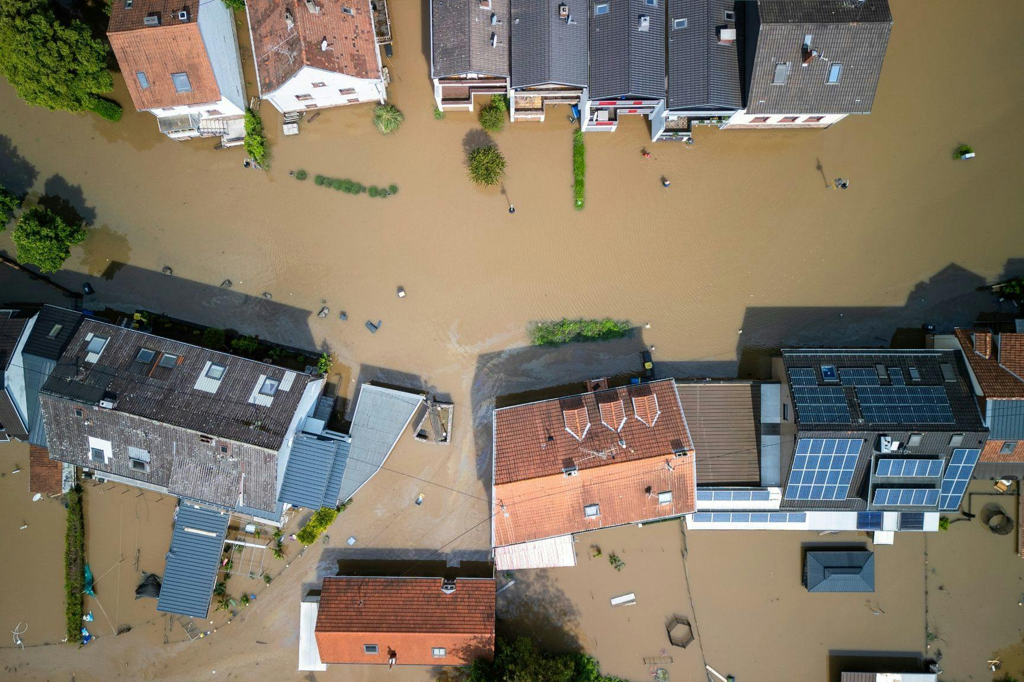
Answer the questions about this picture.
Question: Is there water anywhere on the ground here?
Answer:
Yes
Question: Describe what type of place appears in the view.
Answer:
residential area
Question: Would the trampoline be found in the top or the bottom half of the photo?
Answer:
bottom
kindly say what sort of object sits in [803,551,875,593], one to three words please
building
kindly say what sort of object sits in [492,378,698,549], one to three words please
house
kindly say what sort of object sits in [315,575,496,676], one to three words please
house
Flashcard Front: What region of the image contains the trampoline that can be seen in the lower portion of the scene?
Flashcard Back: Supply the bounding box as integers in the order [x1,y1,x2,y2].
[988,509,1024,535]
